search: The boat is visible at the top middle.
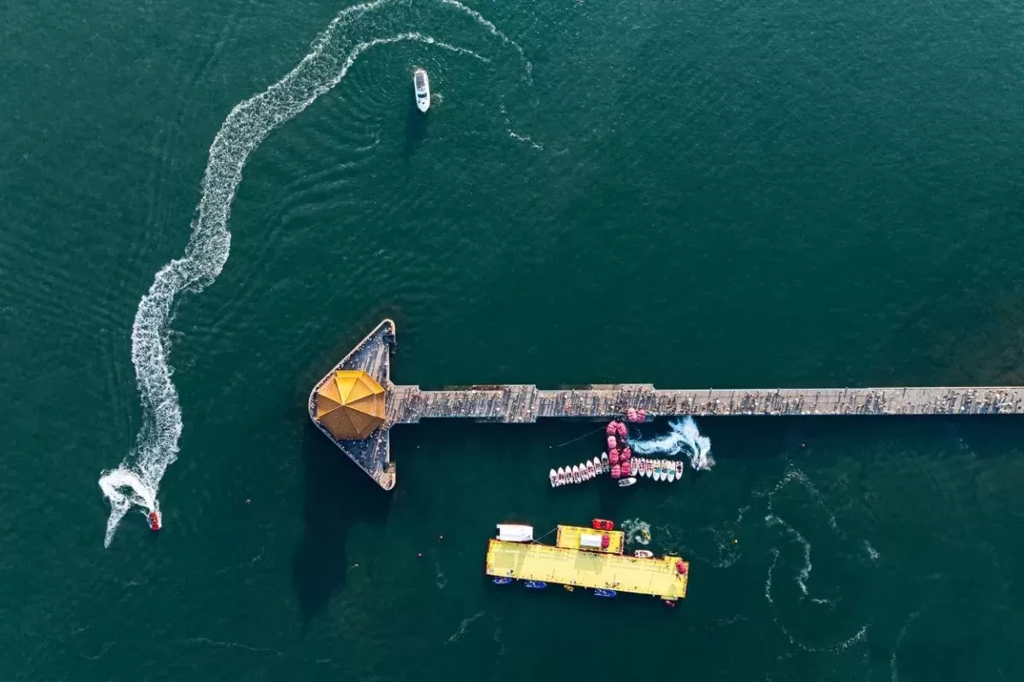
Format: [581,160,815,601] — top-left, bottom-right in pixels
[413,66,431,112]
